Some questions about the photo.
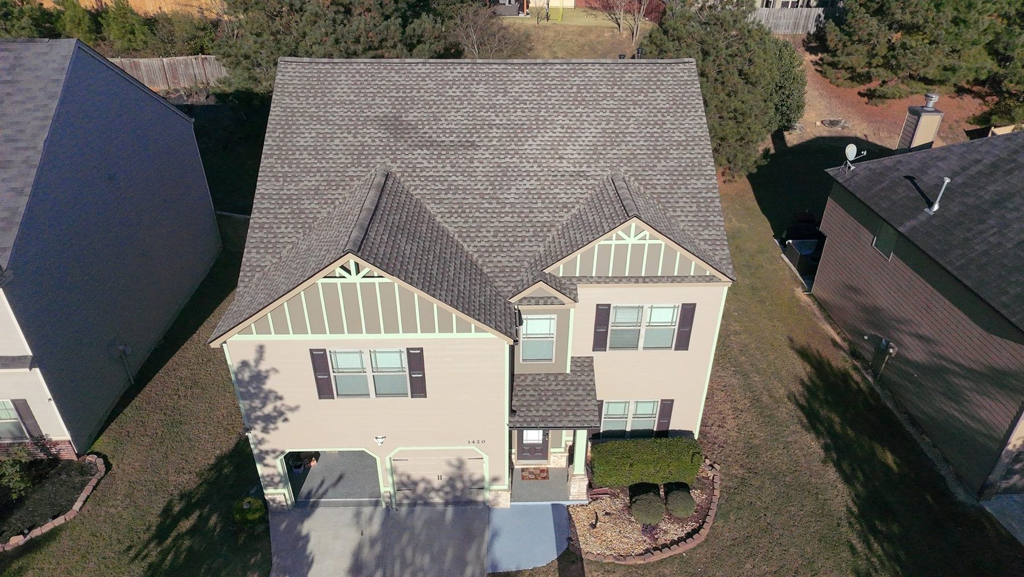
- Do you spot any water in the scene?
No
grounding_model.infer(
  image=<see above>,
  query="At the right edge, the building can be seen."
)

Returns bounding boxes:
[813,94,1024,502]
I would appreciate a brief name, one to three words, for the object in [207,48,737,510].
house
